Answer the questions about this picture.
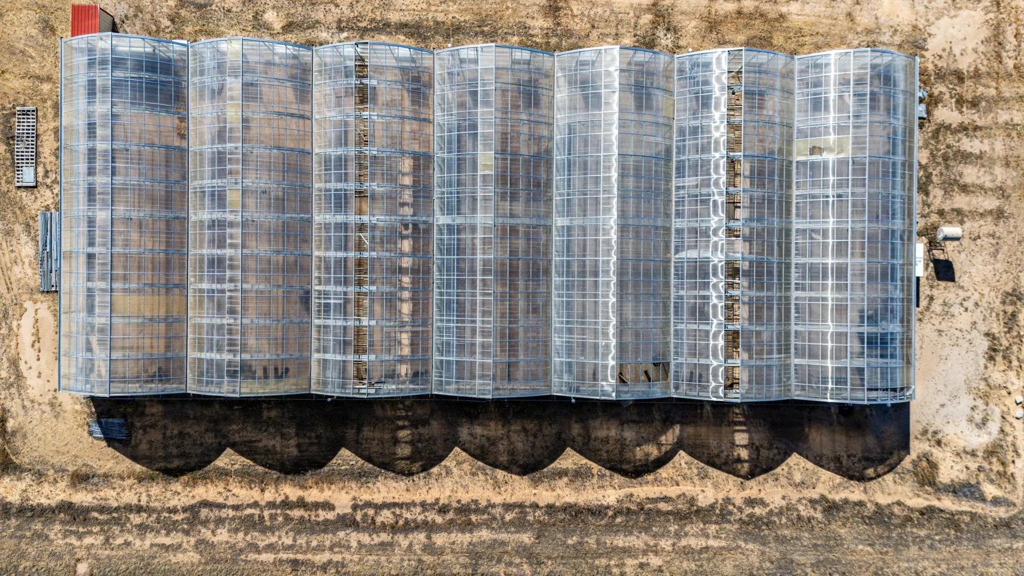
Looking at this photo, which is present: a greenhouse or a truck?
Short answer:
greenhouse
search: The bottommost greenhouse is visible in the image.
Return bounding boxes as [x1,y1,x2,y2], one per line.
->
[56,29,921,406]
